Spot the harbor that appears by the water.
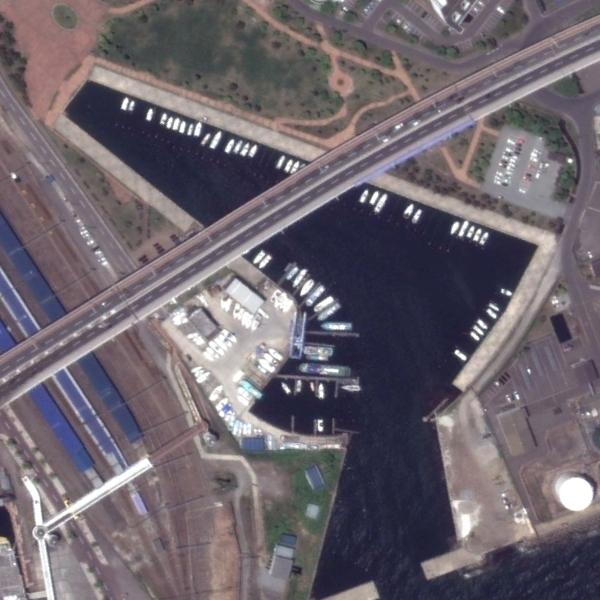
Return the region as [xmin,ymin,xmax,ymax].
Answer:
[56,67,561,600]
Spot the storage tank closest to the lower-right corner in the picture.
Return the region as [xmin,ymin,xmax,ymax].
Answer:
[556,472,593,508]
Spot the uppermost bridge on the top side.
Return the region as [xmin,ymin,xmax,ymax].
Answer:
[0,14,600,406]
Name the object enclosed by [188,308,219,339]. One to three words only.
building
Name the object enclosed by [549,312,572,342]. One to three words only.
building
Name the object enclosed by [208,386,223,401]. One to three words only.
boat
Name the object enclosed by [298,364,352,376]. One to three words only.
ship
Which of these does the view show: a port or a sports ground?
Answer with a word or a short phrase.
port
